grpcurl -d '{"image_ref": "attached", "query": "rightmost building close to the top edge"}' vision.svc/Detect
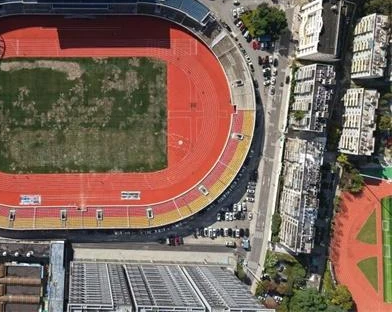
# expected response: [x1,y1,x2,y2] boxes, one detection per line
[349,13,392,80]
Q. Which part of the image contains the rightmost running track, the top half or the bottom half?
bottom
